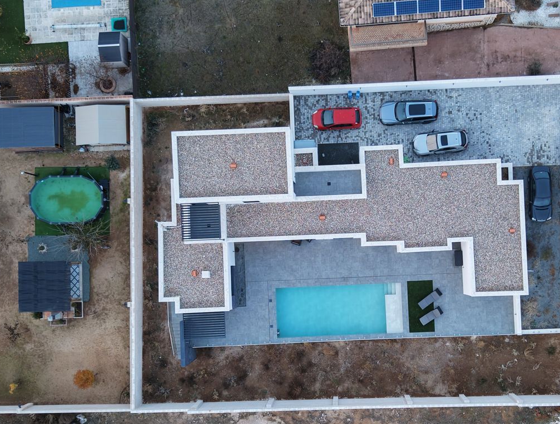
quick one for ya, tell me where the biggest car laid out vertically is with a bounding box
[528,166,556,222]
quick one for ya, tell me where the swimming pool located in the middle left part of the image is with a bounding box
[29,174,107,225]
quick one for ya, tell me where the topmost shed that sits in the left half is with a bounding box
[98,32,128,68]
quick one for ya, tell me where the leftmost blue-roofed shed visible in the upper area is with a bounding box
[0,104,69,152]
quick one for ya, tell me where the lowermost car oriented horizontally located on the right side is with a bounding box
[412,129,469,157]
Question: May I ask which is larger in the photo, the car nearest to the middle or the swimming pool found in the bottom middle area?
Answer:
the swimming pool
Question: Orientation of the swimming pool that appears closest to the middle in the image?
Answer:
from left to right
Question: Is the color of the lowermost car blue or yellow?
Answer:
blue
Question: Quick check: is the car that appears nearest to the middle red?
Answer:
Yes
